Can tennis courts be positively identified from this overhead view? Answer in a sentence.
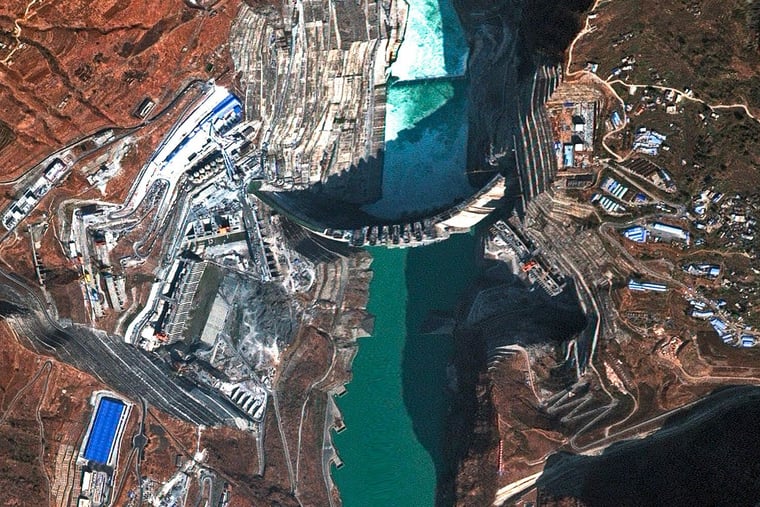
No, the picture doesn't show any tennis court.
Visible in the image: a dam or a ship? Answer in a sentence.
This aerial view contains a dam.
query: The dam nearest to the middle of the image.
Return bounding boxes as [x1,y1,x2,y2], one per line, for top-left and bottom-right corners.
[249,174,508,247]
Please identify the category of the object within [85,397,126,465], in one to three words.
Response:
building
